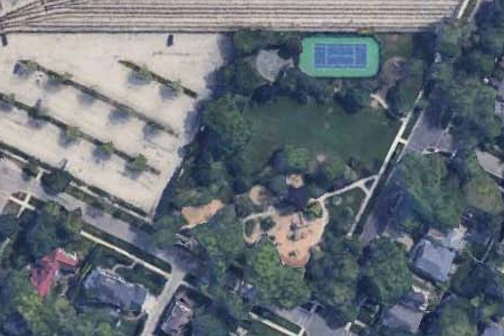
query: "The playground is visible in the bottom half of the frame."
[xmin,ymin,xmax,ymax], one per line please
[273,213,324,266]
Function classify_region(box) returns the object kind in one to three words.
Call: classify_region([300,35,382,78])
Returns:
tennis court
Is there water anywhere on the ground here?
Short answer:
No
